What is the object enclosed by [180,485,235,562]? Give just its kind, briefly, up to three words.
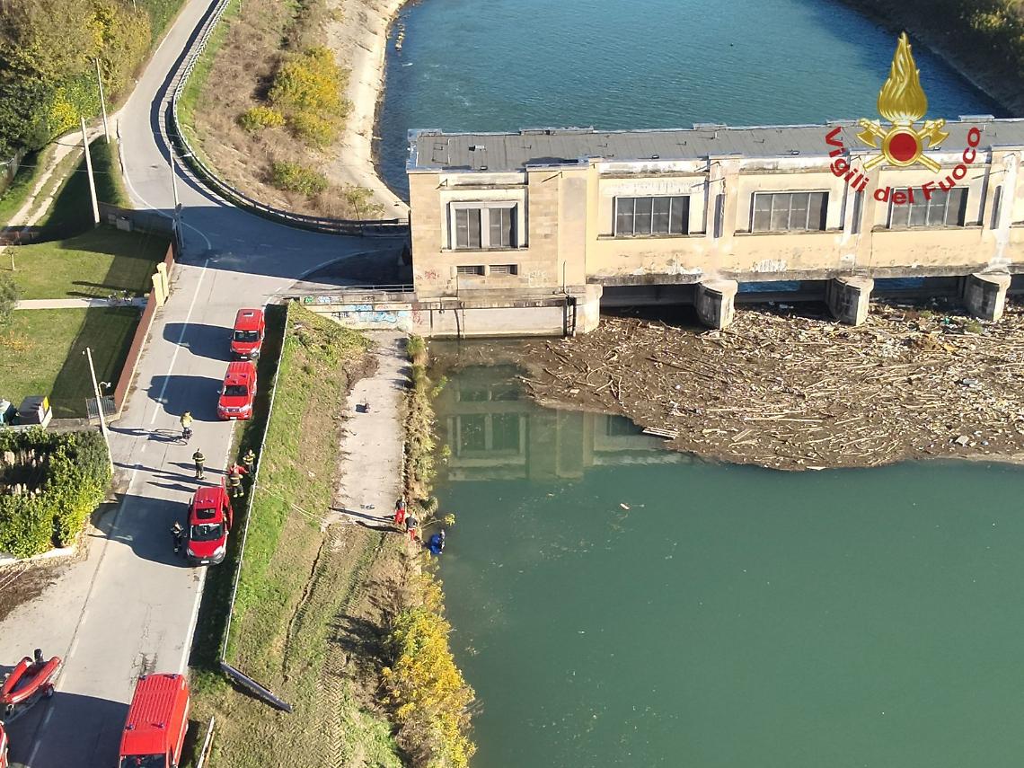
car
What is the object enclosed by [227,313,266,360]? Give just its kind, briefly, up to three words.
van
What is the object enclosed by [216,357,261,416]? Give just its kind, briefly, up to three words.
truck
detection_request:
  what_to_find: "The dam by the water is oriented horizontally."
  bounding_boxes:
[406,105,1024,340]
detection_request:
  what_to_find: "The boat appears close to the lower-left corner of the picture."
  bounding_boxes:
[0,648,69,711]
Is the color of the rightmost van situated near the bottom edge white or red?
red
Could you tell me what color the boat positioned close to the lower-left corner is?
red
